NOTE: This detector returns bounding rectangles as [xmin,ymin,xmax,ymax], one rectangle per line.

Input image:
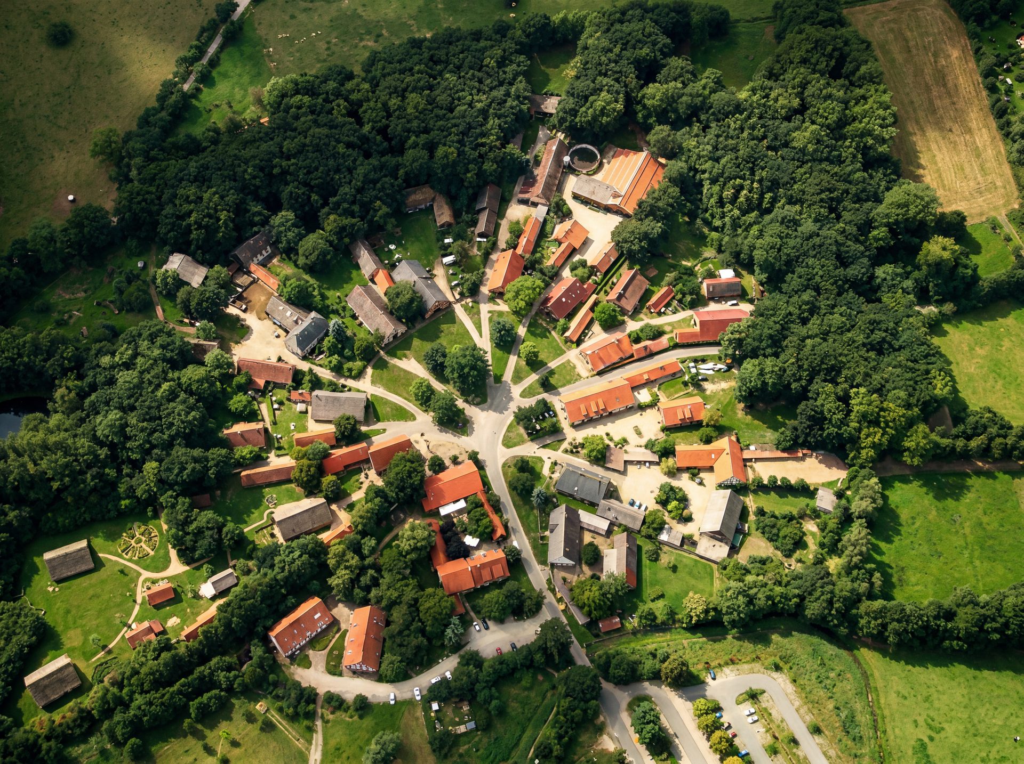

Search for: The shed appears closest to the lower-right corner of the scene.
[817,488,838,512]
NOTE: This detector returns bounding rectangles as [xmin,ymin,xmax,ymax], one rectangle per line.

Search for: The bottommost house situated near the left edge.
[27,654,82,708]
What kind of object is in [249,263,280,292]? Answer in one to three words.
building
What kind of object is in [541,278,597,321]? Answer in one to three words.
house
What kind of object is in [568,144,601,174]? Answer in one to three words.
storage tank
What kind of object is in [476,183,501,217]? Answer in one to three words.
barn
